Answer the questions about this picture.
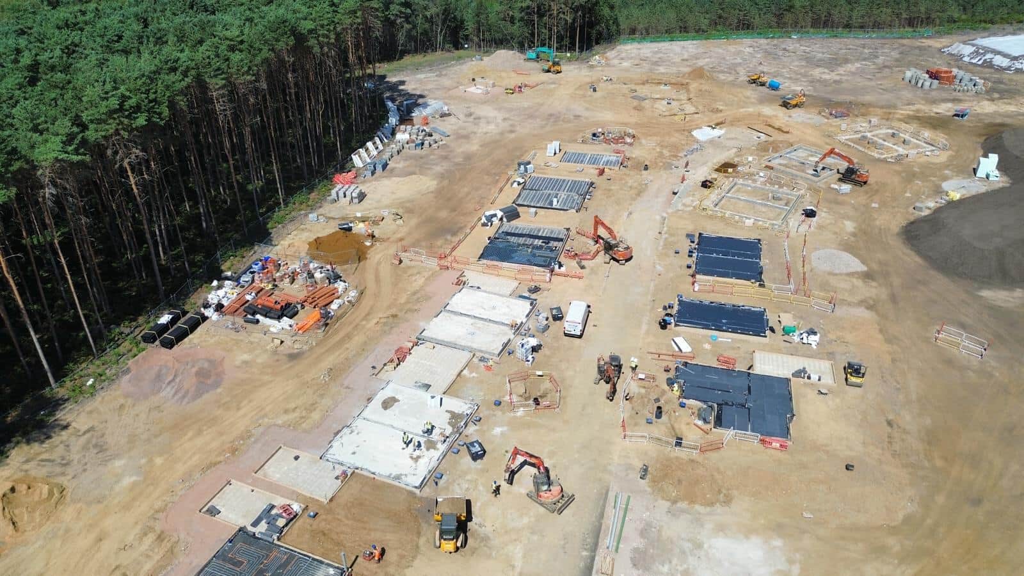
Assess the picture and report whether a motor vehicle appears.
Yes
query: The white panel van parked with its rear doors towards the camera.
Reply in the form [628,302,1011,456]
[564,302,592,338]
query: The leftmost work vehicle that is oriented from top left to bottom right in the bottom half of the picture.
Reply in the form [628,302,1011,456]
[505,450,580,519]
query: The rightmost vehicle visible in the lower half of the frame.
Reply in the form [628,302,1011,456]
[845,360,871,386]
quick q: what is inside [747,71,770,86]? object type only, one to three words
vehicle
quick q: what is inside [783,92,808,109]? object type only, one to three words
vehicle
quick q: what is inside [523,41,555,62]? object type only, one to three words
work vehicle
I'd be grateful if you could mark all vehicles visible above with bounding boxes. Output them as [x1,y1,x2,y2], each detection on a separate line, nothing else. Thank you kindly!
[783,92,808,109]
[543,58,563,72]
[845,360,871,386]
[747,71,770,86]
[523,41,555,62]
[591,209,633,263]
[564,302,592,338]
[596,359,624,401]
[809,144,871,189]
[505,450,580,519]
